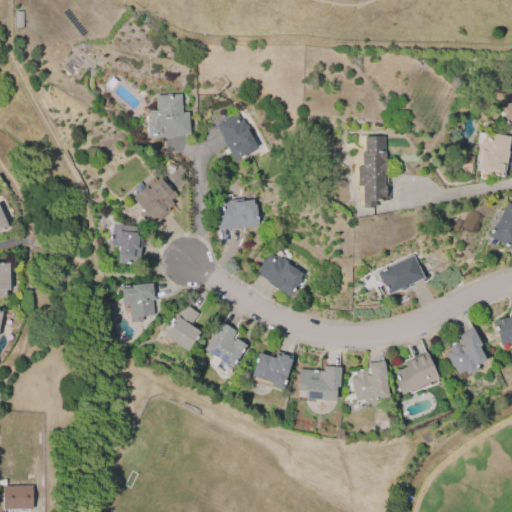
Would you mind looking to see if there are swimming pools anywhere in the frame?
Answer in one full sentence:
Yes, this view includes a swimming pool.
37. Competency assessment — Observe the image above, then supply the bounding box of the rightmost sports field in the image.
[422,424,512,512]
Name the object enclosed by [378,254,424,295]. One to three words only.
house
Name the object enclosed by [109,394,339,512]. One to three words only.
sports field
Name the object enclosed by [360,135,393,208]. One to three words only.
house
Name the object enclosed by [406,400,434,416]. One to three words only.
swimming pool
